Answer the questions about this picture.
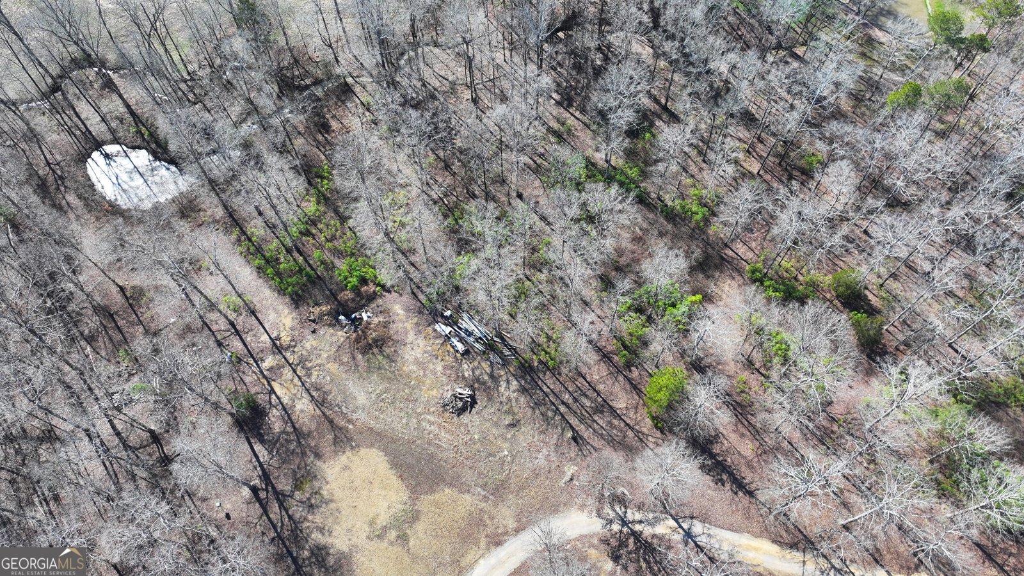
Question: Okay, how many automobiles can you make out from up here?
zero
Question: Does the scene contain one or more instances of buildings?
No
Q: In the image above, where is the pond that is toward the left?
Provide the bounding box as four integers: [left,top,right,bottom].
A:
[89,146,188,210]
